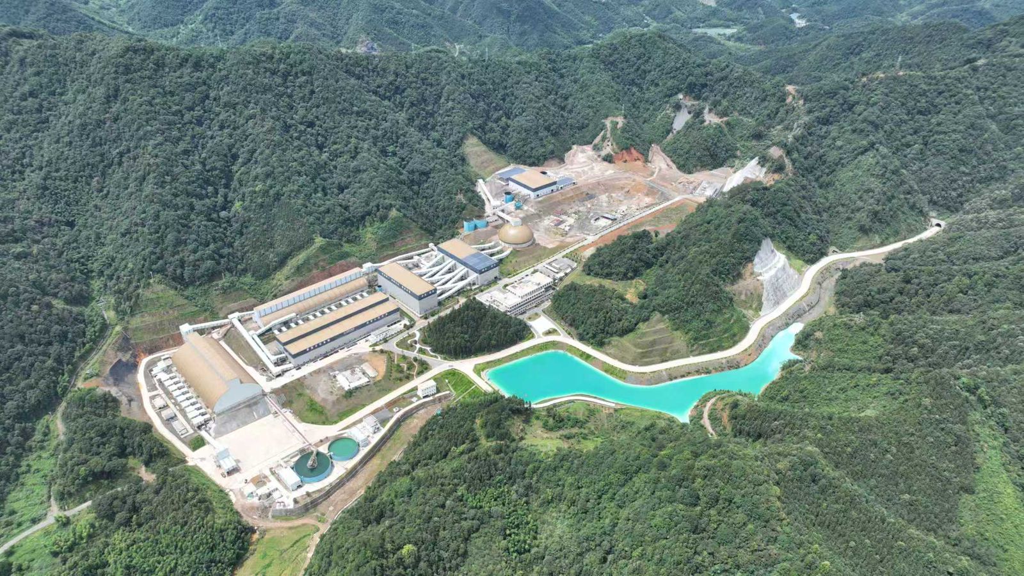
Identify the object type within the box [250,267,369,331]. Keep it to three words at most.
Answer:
shed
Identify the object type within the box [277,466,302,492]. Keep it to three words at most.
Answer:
building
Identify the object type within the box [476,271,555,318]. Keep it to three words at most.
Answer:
building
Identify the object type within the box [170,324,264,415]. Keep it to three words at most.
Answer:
shed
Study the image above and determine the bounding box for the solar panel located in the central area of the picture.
[461,251,497,272]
